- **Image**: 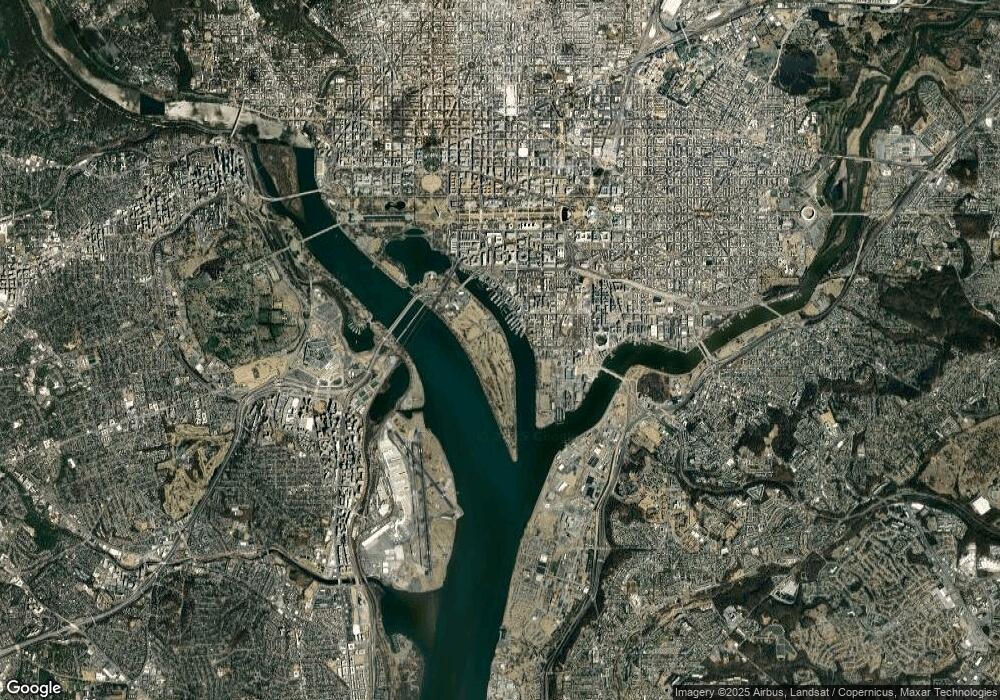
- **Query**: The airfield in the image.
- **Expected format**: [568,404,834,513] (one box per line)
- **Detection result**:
[361,422,463,574]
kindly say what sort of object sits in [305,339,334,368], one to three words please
building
